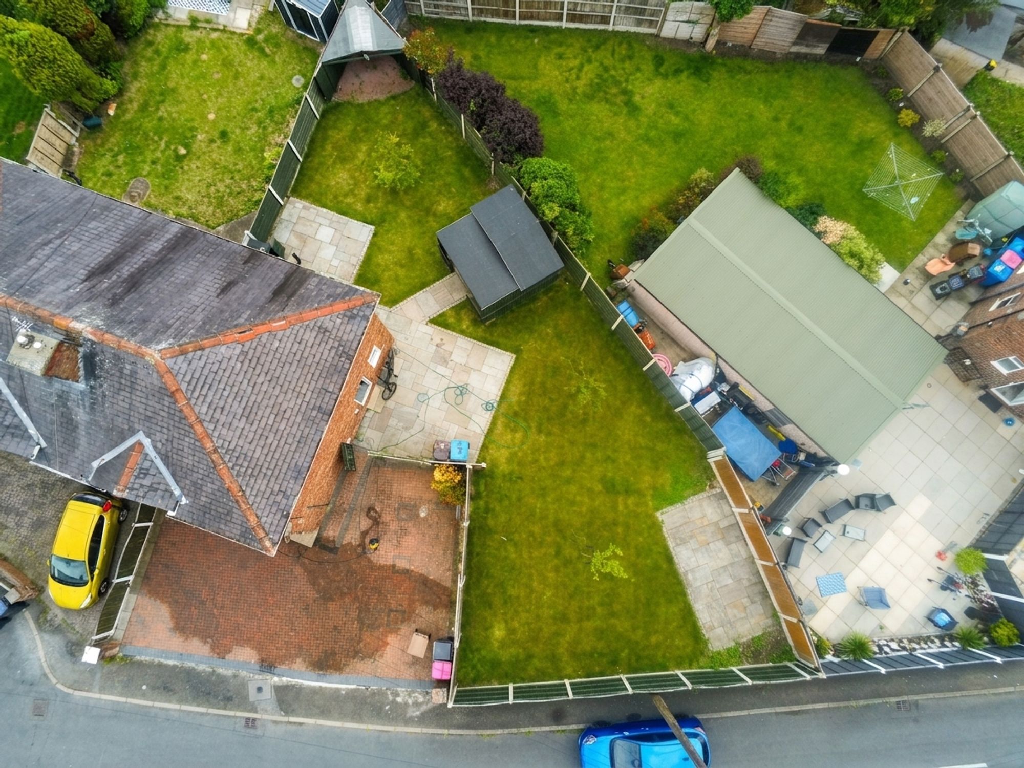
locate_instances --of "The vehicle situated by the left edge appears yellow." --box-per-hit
[48,493,127,606]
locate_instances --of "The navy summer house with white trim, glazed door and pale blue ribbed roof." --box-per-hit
[272,0,339,44]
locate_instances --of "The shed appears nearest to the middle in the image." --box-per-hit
[436,187,562,320]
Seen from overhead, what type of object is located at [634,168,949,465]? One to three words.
building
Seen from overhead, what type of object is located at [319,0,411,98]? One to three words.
shed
